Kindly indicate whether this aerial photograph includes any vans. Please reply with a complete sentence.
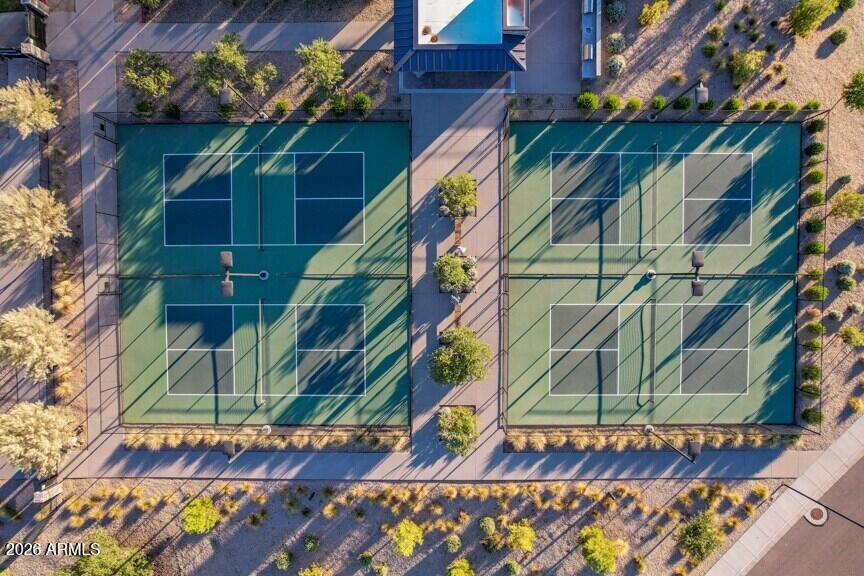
No, the scene contains no van.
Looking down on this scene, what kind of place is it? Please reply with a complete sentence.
What you see here is a sports ground.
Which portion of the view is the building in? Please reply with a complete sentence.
You can find the building in the top area of the picture.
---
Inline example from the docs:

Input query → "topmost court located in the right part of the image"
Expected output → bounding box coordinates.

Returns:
[508,122,801,275]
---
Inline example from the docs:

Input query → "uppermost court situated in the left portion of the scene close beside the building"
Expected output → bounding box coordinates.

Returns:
[116,122,408,275]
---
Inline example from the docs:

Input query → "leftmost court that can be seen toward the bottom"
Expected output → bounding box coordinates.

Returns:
[119,276,408,427]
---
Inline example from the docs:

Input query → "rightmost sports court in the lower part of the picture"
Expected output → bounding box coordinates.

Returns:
[508,276,799,427]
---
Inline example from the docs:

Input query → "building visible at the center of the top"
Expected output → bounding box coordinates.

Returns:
[393,0,532,93]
